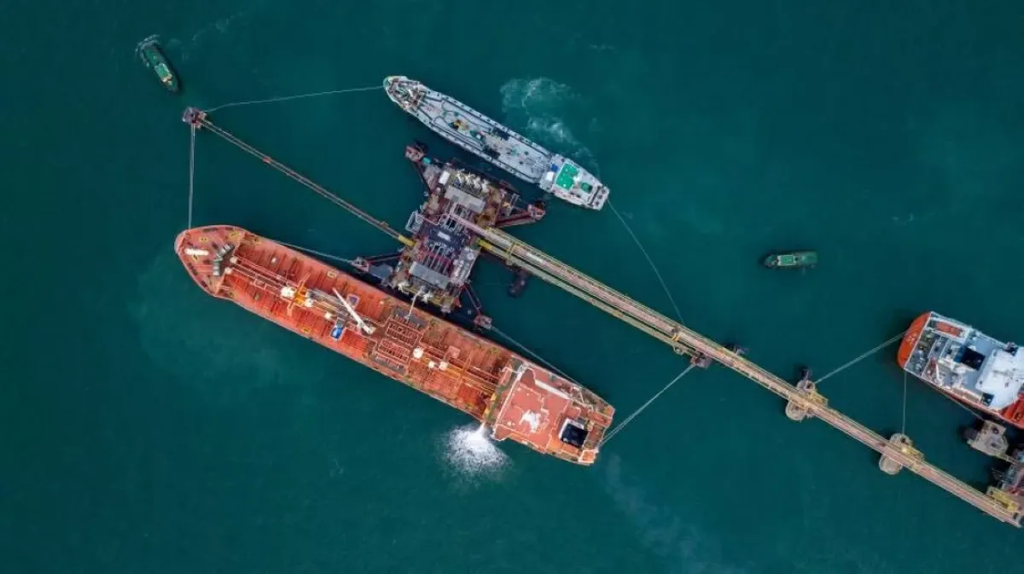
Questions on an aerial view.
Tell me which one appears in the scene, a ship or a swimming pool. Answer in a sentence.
This aerial view contains a ship.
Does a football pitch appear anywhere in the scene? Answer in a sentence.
No, the picture doesn't show any football pitch.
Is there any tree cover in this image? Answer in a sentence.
No, there's no tree cover in this view.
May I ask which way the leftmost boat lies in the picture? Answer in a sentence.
The leftmost boat is laid out at an angle.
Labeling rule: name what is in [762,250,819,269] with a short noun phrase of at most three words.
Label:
boat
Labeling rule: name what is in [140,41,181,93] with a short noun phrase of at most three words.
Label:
boat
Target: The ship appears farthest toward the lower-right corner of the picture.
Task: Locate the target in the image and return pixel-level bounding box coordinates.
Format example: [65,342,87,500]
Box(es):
[898,312,1024,430]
